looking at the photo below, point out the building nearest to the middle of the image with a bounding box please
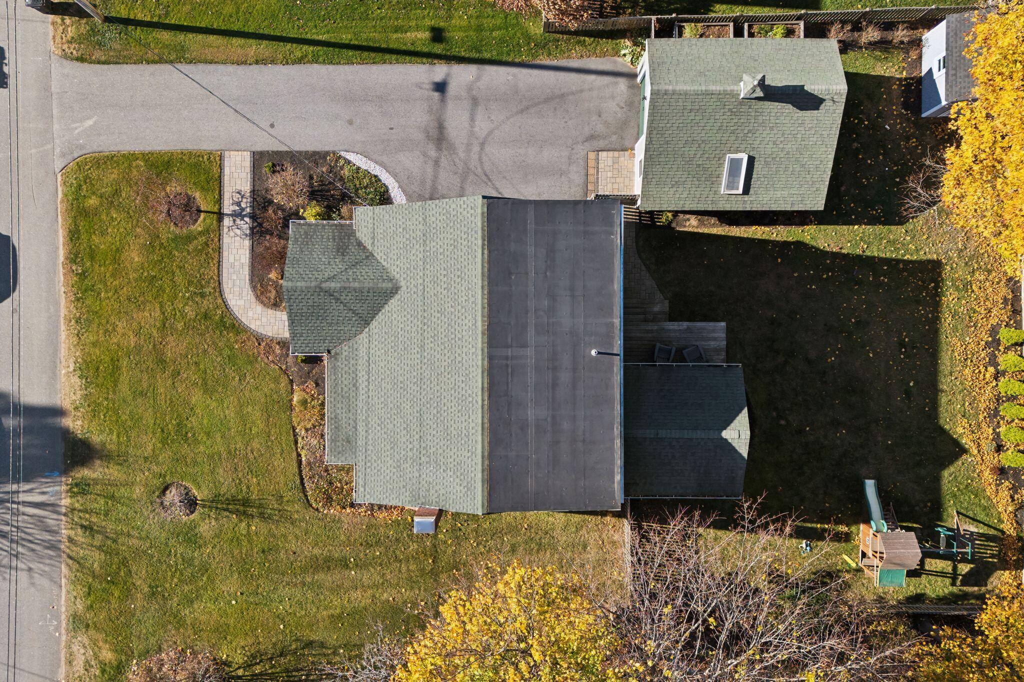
[283,196,750,530]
